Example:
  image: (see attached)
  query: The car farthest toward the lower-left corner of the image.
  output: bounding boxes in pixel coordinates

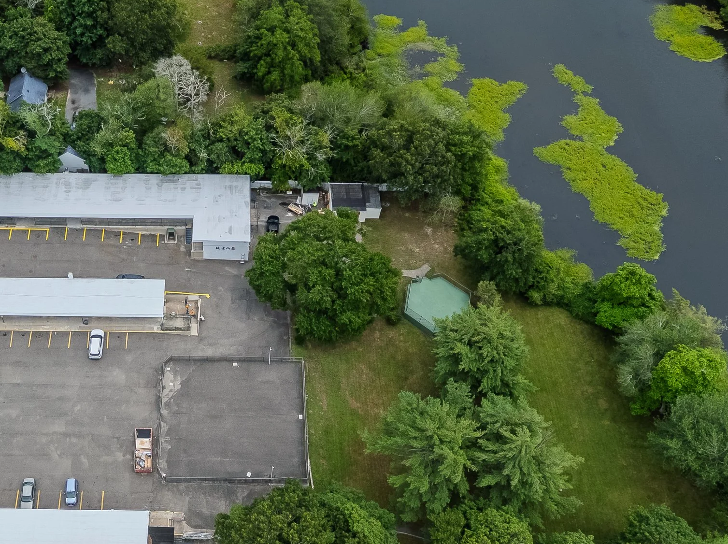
[18,476,37,509]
